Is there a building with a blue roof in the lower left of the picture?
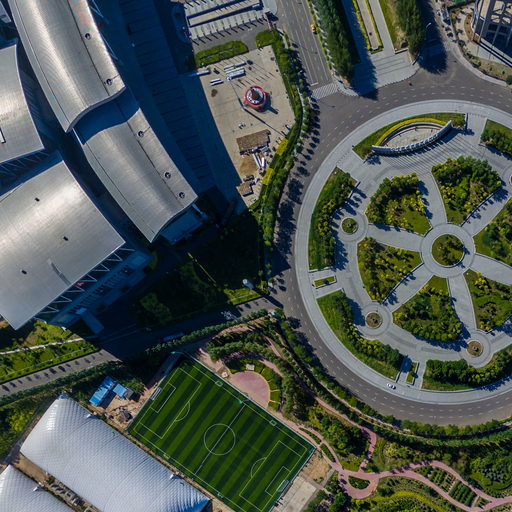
Yes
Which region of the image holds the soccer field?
bottom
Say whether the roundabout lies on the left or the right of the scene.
right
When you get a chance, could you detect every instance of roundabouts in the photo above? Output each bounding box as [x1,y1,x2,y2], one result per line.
[272,76,512,425]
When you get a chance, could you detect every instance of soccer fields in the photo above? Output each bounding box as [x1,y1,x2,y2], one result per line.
[124,352,315,512]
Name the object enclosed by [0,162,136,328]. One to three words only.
building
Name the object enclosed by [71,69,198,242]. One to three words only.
building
